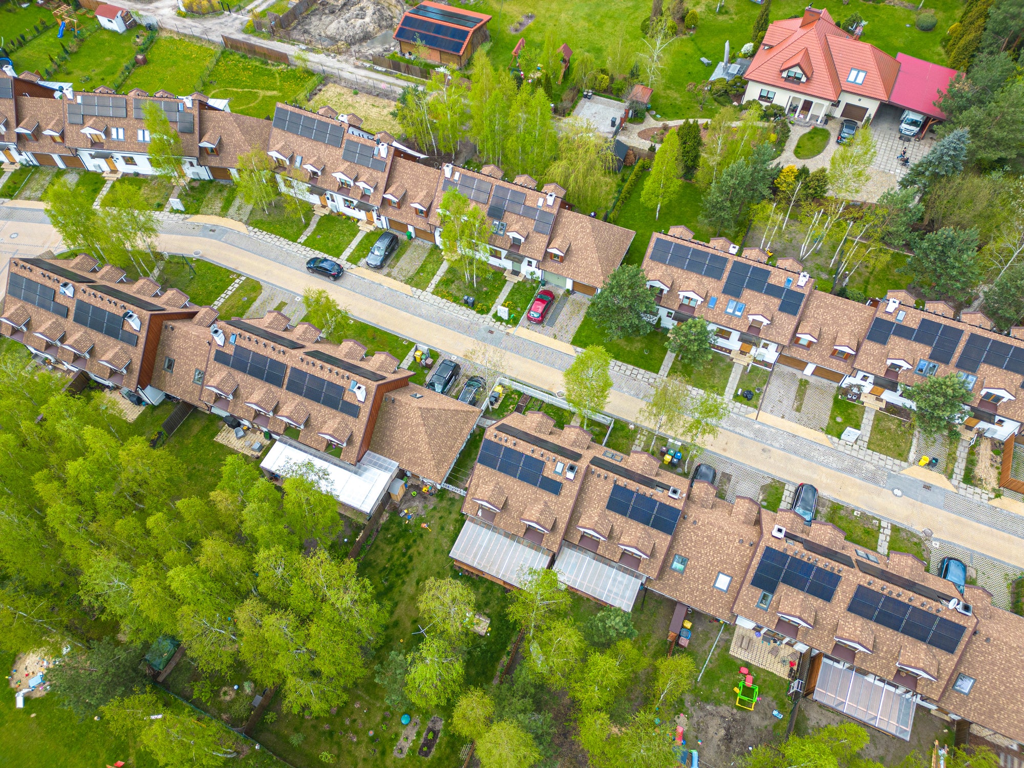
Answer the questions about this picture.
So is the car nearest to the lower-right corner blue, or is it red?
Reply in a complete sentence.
The car nearest to the lower-right corner looks blue in the image.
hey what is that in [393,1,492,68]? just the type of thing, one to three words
barn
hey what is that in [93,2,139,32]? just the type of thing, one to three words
shed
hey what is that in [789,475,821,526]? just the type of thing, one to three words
car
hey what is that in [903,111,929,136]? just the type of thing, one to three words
truck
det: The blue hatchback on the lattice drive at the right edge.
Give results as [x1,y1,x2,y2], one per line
[939,548,972,593]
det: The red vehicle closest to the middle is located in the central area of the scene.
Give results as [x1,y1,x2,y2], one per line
[525,290,554,322]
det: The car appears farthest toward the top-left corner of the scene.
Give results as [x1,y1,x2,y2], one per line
[306,260,344,283]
